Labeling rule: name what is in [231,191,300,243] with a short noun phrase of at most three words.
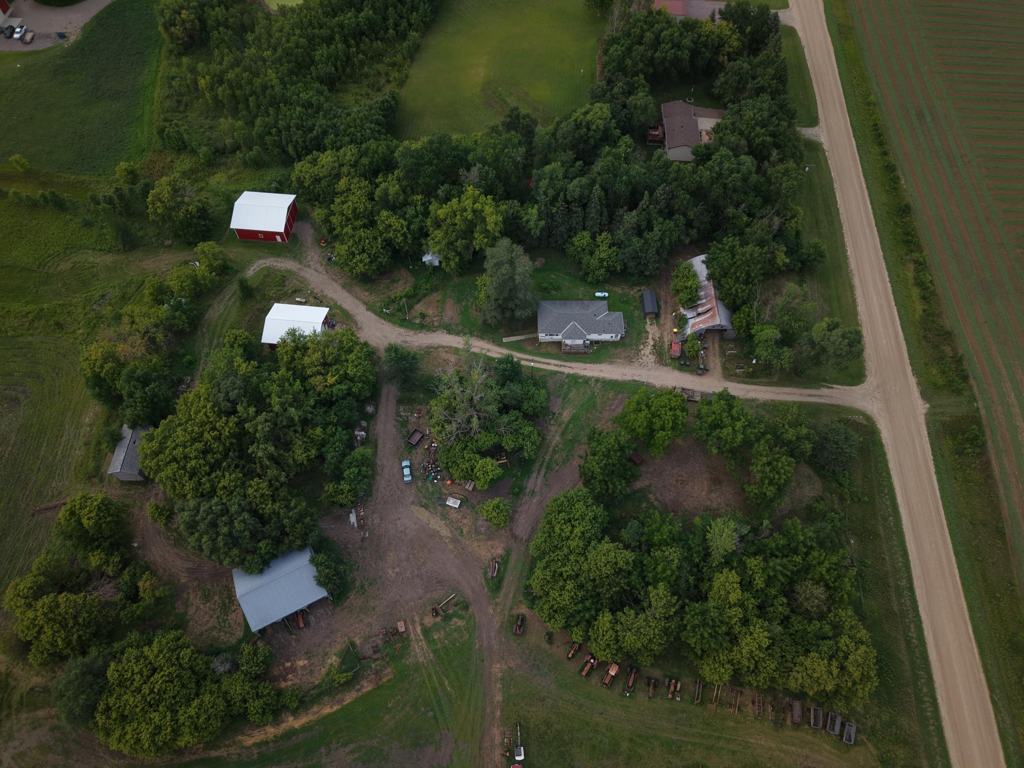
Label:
barn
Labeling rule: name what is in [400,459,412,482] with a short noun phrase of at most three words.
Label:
vehicle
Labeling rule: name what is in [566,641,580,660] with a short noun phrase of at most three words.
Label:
work vehicle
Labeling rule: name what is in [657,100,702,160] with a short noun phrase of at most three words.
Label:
house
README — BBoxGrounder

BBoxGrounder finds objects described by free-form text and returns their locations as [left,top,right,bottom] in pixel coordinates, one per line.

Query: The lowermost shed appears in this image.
[233,536,333,635]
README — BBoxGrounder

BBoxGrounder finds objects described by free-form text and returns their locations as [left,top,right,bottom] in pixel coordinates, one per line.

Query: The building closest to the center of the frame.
[536,300,625,345]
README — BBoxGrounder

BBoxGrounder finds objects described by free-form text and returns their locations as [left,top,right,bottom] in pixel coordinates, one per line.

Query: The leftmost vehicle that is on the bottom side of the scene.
[291,609,306,628]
